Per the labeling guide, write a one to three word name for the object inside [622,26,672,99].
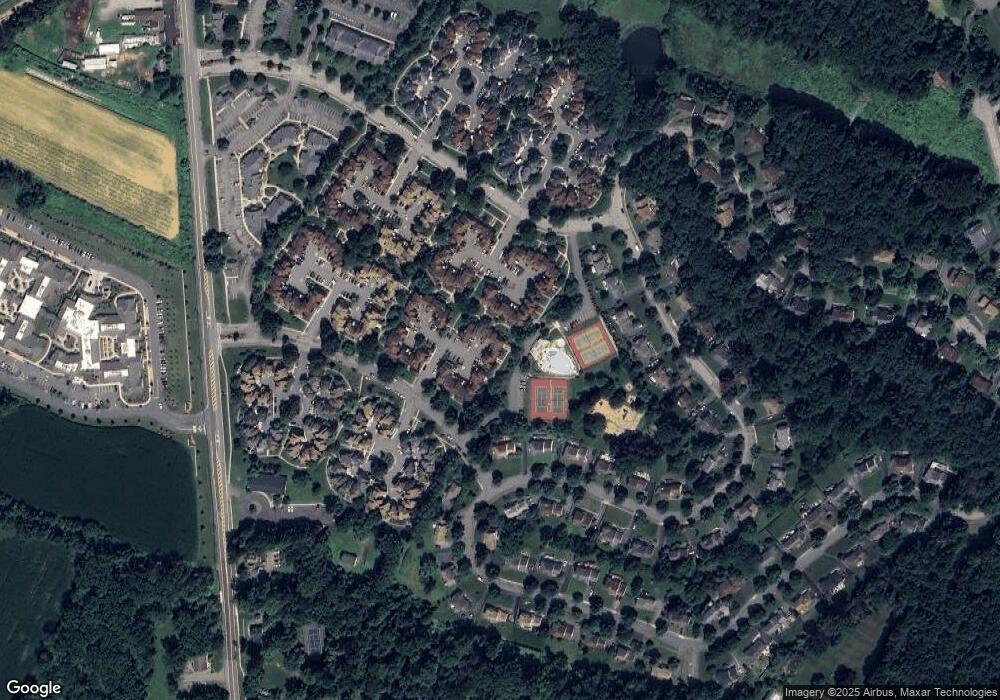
pond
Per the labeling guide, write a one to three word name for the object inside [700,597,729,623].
house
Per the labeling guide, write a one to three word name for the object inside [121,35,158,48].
greenhouse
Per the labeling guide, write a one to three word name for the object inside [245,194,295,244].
building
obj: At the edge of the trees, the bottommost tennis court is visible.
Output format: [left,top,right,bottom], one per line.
[304,625,324,655]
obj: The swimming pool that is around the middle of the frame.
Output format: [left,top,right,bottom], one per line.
[530,337,580,376]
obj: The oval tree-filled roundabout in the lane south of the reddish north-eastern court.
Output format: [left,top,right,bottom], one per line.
[544,127,578,171]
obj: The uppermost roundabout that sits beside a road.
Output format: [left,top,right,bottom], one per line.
[450,61,484,103]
